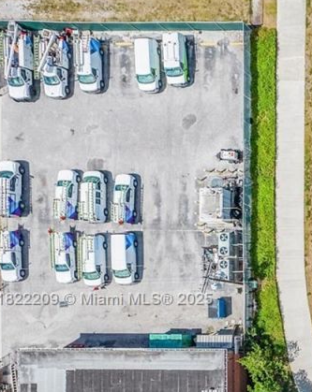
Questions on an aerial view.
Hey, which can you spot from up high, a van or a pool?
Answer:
van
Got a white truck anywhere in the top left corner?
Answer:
Yes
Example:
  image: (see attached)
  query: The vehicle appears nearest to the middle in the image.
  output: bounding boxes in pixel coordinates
[111,173,139,226]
